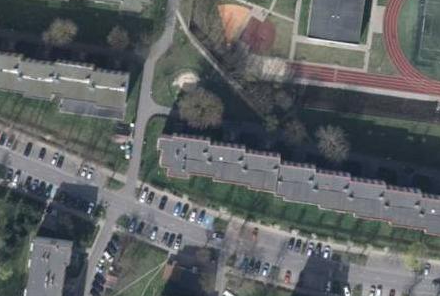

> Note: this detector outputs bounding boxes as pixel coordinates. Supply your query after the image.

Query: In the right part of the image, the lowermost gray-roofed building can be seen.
[158,133,440,233]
